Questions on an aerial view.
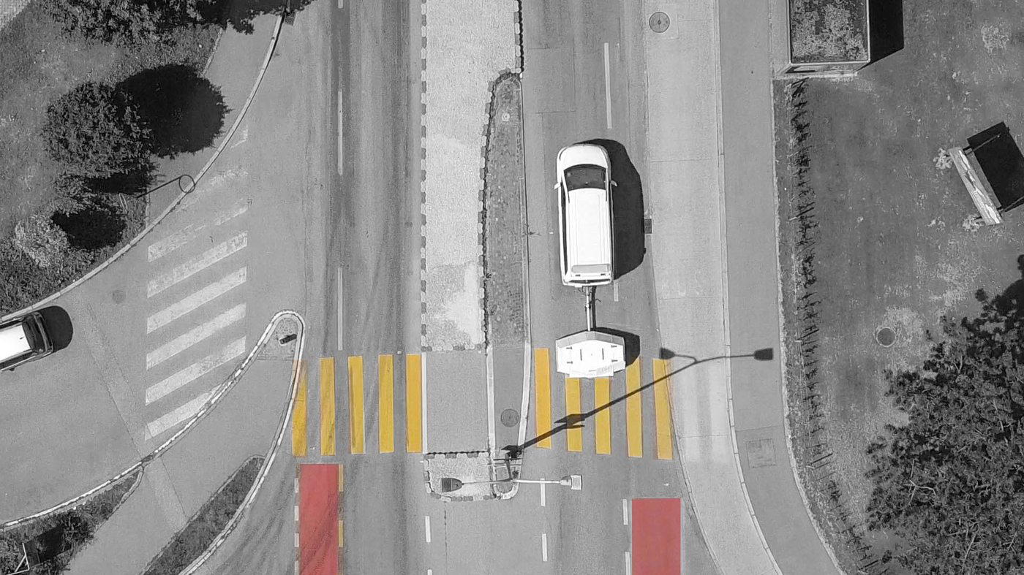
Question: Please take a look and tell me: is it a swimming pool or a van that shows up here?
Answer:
van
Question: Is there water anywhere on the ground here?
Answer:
No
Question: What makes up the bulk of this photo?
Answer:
paved ground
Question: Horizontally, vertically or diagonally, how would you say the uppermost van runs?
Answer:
vertically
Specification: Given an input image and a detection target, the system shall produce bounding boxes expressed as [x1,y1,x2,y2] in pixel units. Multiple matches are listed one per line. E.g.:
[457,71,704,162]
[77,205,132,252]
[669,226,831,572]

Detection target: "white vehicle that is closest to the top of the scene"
[551,143,619,290]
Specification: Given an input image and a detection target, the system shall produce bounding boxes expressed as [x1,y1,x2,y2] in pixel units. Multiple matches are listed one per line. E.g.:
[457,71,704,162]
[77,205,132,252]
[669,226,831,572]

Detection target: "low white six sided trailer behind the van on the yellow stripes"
[557,286,626,378]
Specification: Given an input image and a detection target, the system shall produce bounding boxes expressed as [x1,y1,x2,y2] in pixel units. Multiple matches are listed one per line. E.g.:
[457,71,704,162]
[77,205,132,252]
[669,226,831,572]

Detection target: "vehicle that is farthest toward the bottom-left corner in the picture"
[0,311,57,373]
